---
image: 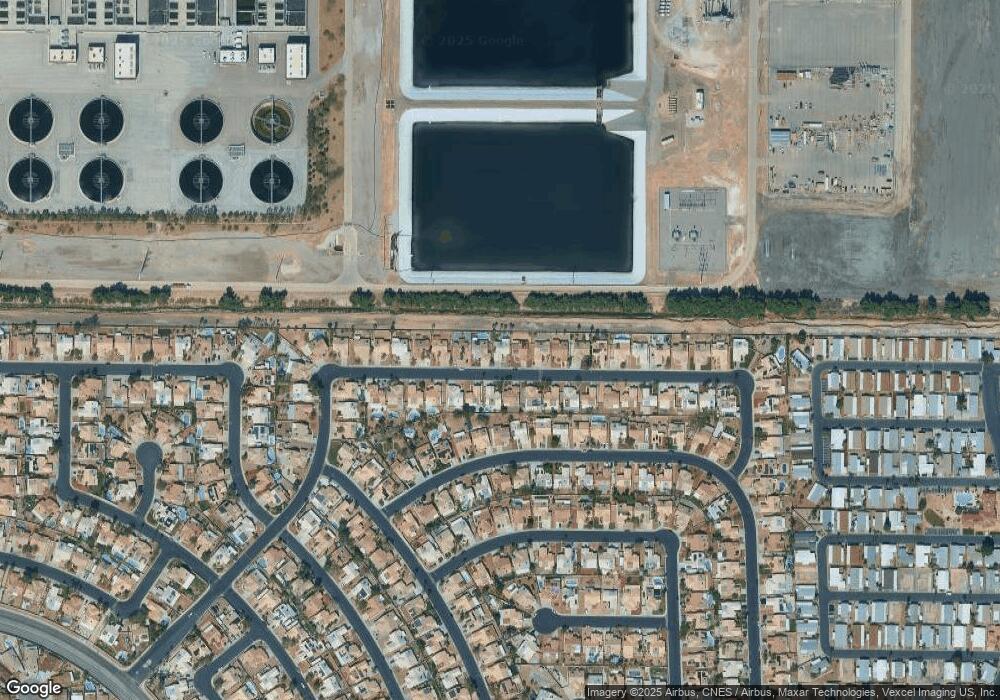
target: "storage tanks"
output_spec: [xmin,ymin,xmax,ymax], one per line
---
[79,96,124,144]
[179,96,225,144]
[250,96,295,144]
[8,155,54,204]
[249,155,295,204]
[78,155,124,204]
[8,96,54,144]
[179,155,224,204]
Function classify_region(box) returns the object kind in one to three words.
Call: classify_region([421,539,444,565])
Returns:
house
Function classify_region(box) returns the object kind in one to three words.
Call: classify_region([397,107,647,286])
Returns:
pond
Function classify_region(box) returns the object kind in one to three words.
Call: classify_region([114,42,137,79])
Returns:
building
